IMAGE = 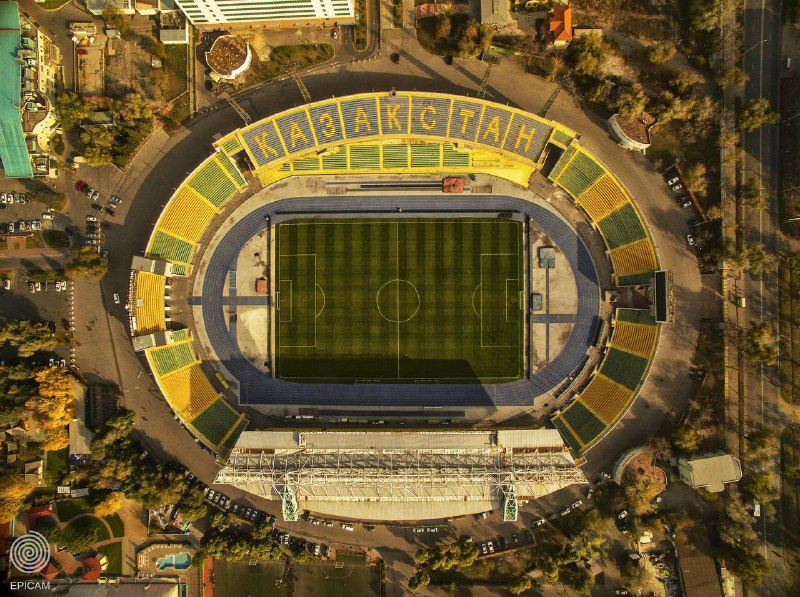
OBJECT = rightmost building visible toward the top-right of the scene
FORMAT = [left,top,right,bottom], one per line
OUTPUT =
[610,112,655,154]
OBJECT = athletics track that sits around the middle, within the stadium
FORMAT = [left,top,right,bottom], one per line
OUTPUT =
[202,196,597,405]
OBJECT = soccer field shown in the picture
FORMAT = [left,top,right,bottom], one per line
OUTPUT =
[275,217,524,383]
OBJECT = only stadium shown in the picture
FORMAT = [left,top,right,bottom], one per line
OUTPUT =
[123,87,665,522]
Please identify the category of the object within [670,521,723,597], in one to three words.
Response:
building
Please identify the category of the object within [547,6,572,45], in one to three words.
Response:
house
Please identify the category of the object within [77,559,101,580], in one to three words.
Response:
tent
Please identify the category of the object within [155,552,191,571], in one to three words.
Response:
swimming pool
